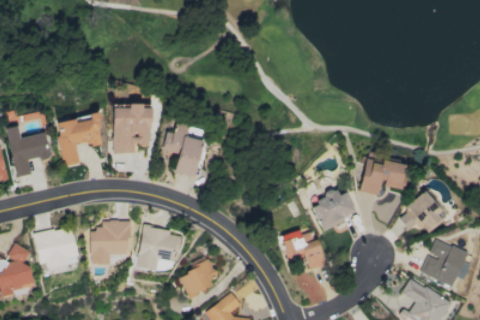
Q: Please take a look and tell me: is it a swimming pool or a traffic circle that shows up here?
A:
swimming pool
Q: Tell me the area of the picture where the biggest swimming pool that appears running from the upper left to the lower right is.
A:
right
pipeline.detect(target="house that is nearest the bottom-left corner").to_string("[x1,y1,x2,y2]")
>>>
[0,243,35,298]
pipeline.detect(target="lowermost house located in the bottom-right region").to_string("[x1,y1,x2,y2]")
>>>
[398,279,452,320]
